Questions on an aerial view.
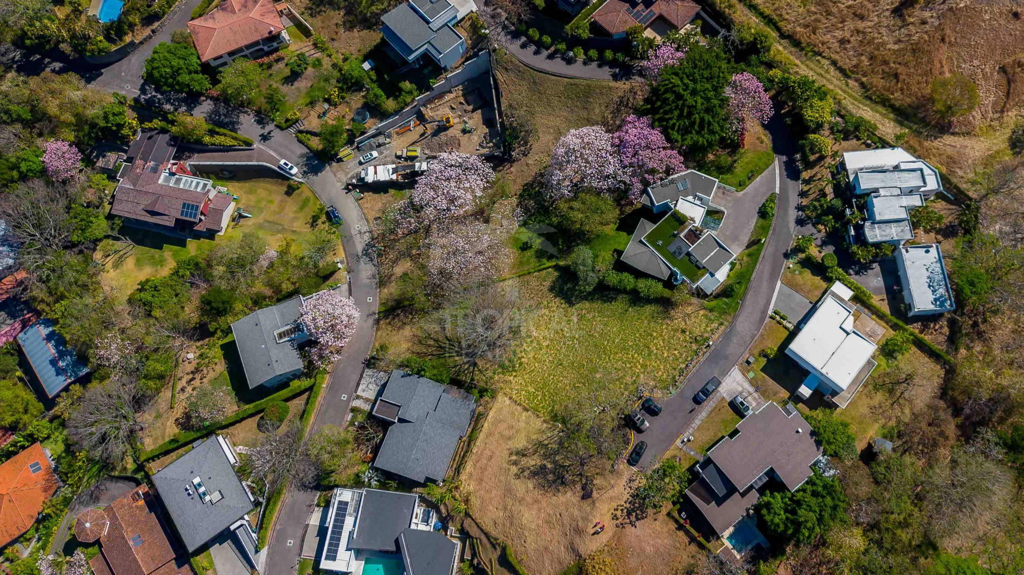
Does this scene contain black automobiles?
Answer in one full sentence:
Yes, the frame does contain a black automobile.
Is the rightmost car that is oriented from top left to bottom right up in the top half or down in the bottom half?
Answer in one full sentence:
The bottom half of the photo is where the rightmost car that is oriented from top left to bottom right is.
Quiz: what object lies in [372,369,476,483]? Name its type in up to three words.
house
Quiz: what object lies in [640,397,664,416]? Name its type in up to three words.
car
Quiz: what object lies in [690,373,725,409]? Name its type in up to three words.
truck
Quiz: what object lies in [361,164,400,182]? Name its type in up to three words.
shed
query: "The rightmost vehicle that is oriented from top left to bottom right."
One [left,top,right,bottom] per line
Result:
[732,392,754,416]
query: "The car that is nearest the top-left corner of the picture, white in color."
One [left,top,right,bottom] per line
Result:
[276,159,300,175]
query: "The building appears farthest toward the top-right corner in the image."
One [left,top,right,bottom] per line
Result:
[839,147,942,243]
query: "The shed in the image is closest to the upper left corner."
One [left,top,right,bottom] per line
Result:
[95,153,122,169]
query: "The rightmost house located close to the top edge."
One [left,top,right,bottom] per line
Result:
[591,0,701,44]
